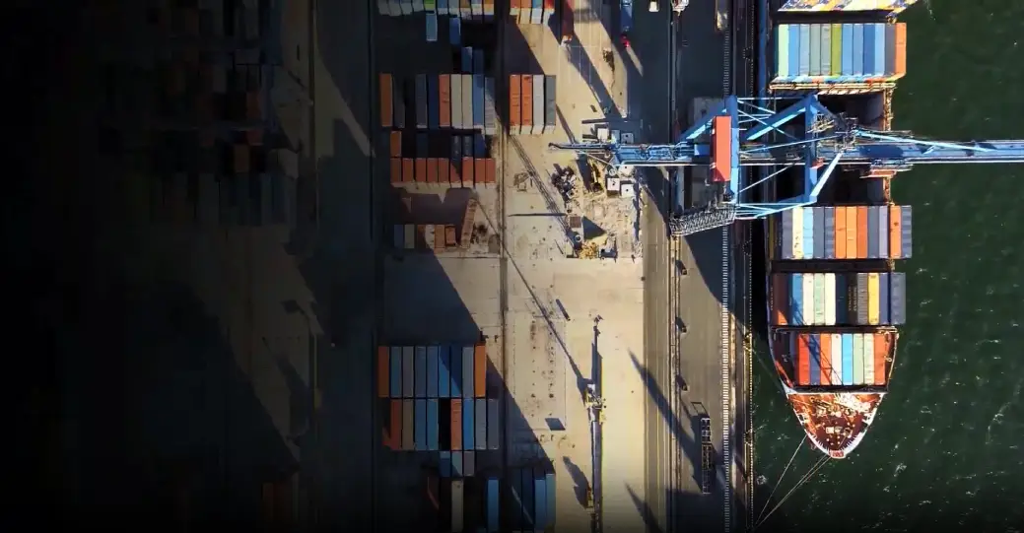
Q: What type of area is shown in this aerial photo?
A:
port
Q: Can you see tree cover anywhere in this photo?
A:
No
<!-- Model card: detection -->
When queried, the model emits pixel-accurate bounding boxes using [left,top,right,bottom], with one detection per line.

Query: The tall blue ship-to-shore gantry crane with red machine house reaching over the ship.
[552,89,1024,237]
